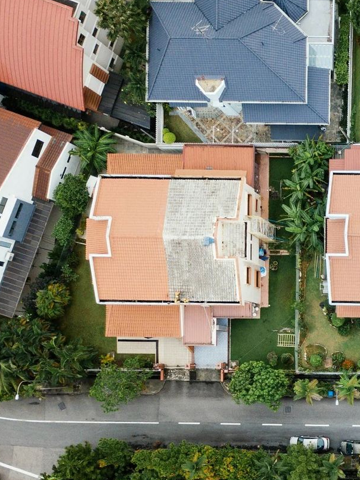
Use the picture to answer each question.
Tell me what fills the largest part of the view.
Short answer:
buildings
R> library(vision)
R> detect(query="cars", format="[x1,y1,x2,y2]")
[291,434,331,451]
[341,437,360,457]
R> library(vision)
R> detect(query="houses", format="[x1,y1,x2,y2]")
[145,0,342,144]
[0,0,157,132]
[0,109,97,318]
[86,145,275,345]
[325,145,360,318]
